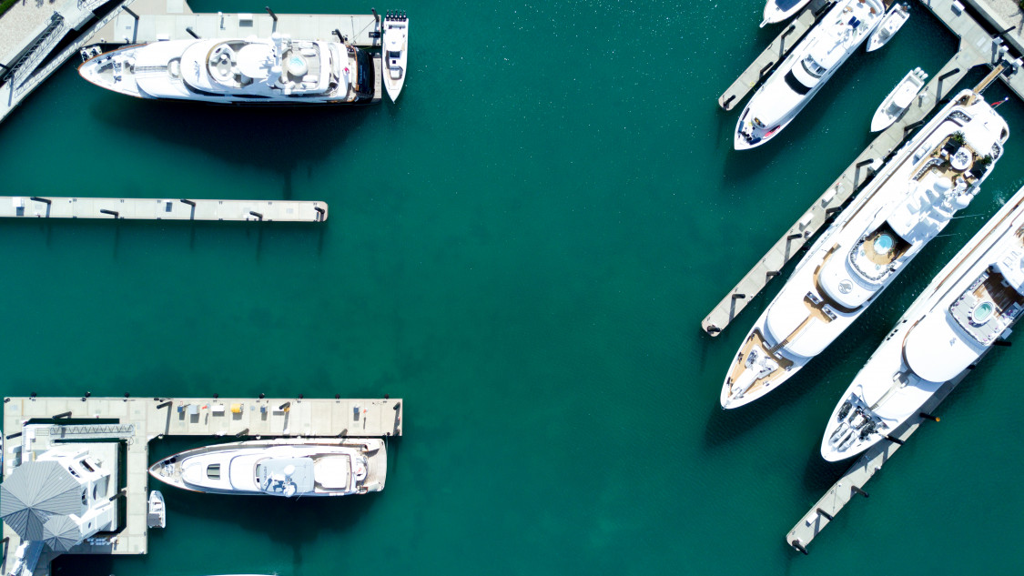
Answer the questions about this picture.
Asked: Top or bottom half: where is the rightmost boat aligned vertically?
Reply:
top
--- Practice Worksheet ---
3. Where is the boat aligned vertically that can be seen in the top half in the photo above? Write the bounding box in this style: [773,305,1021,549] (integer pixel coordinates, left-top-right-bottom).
[380,12,407,98]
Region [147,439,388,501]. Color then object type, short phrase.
white boat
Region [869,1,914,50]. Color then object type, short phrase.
white boat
